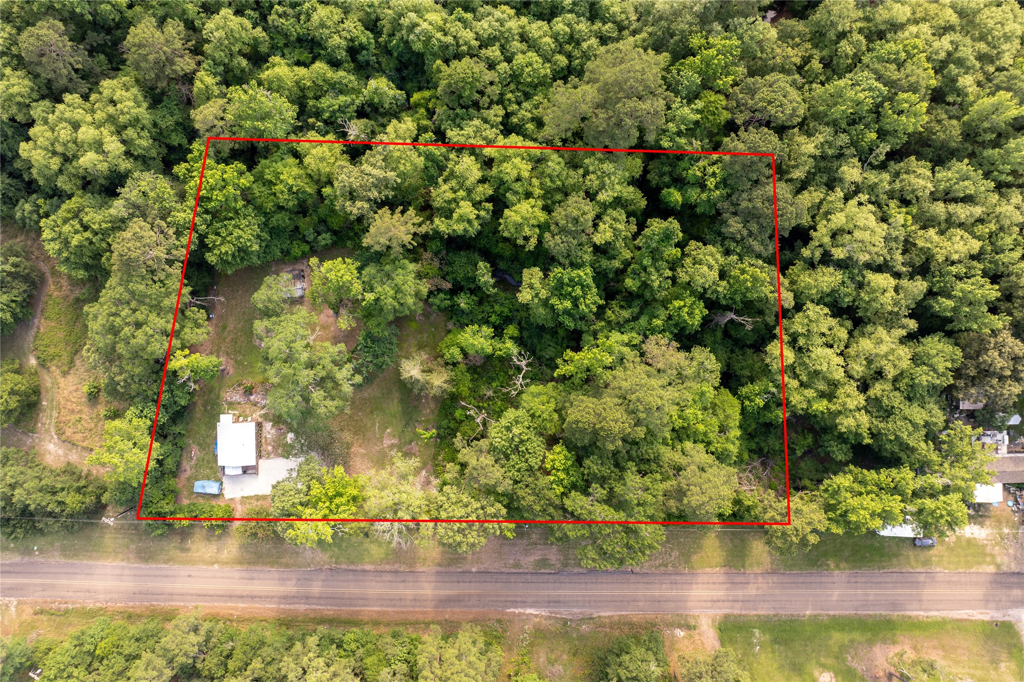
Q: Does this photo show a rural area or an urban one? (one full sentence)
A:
The area is rural.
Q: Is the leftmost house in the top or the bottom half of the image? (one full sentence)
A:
The bottom half of the photo is where the leftmost house is.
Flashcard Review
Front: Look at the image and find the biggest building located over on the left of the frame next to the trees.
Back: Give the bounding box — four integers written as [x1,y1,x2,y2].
[217,414,259,477]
